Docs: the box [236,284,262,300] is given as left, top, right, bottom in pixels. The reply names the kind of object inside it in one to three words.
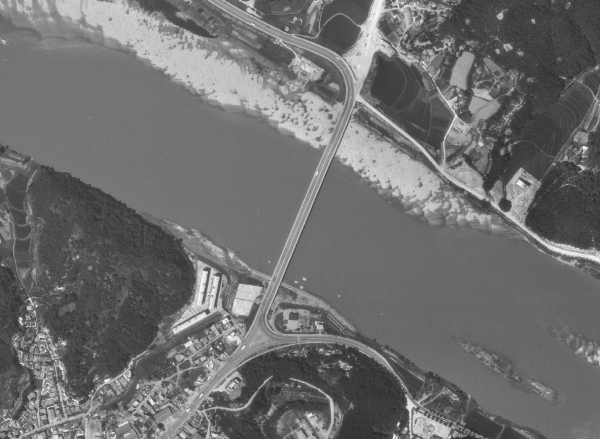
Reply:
building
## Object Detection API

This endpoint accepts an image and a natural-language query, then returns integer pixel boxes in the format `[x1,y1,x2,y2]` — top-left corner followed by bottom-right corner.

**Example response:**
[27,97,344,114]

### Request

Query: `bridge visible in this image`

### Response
[268,91,356,289]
